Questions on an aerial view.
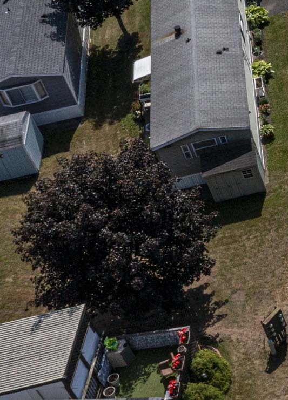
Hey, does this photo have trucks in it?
No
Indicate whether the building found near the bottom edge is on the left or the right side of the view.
left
